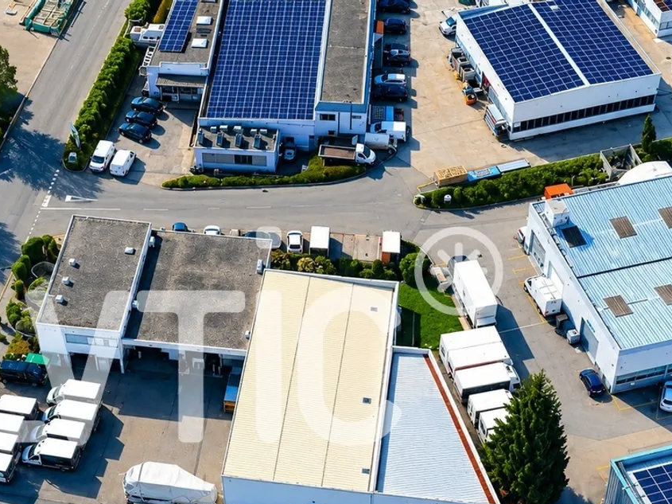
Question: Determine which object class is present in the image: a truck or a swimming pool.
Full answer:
I can see a truck in this picture.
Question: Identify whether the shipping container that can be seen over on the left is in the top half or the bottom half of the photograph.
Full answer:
The top half of the photo is where the shipping container that can be seen over on the left is.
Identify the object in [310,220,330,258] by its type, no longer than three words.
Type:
trailer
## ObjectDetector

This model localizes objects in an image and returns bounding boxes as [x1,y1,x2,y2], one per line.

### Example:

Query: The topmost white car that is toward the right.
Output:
[435,11,456,34]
